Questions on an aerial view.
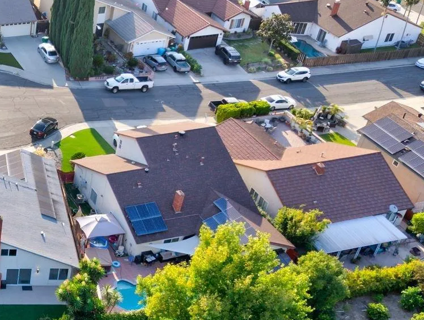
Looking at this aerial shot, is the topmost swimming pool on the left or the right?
right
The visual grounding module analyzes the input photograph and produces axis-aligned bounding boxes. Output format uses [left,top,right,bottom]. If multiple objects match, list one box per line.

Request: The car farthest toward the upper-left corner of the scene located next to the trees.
[40,47,59,61]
